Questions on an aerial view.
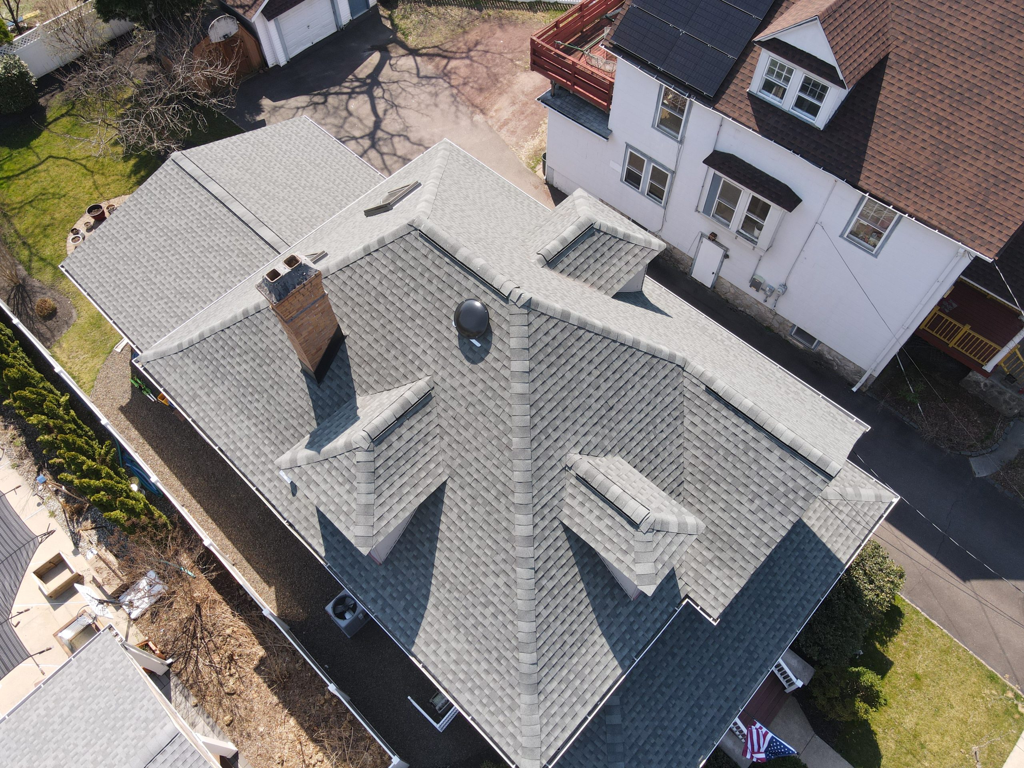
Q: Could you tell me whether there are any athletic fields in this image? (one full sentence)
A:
No, there isn't any athletic field down there.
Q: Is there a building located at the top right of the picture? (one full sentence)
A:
Yes, at the top right of the picture there is a building.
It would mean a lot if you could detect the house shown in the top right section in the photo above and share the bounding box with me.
[528,0,1024,407]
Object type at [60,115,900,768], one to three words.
house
